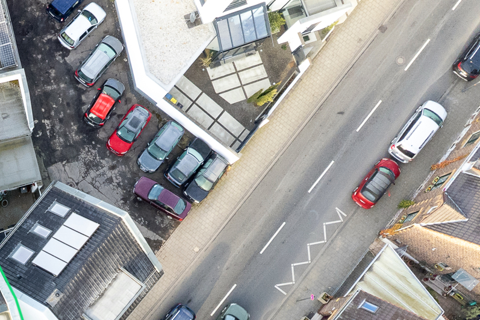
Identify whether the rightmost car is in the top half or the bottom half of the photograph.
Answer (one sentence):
The rightmost car is in the top half of the image.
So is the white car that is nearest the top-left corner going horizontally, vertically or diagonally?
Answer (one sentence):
I'd say the white car that is nearest the top-left corner is aligned diagonally in the picture.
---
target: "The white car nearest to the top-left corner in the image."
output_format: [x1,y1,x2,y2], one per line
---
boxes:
[54,1,107,54]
